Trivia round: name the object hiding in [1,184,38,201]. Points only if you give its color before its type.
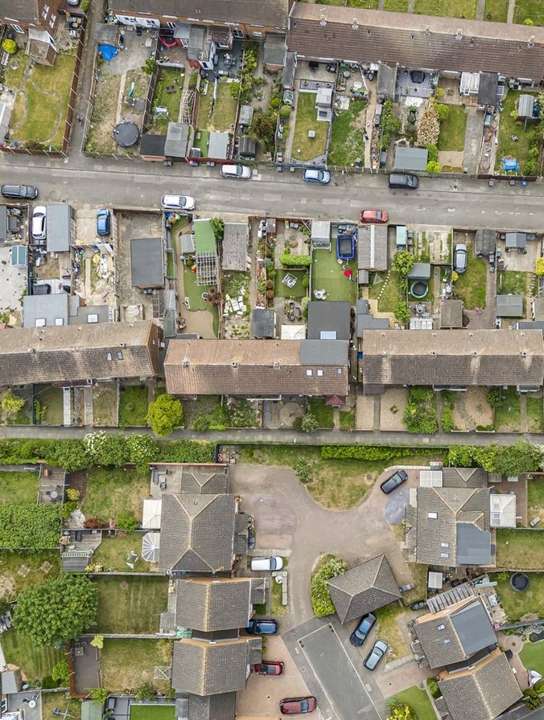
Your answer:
gray car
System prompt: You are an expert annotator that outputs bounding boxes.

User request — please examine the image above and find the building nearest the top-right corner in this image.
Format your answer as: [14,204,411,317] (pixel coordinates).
[498,22,544,87]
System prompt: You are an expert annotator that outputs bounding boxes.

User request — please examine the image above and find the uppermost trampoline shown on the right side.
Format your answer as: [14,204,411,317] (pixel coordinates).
[335,231,354,258]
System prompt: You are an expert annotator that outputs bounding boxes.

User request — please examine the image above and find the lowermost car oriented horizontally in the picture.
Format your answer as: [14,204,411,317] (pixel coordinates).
[278,695,318,713]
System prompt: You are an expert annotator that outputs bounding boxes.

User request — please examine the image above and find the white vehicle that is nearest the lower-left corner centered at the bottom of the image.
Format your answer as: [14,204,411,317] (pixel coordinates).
[251,555,285,573]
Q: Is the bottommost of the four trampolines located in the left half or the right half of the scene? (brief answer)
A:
right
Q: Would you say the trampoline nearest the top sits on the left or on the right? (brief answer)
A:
left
